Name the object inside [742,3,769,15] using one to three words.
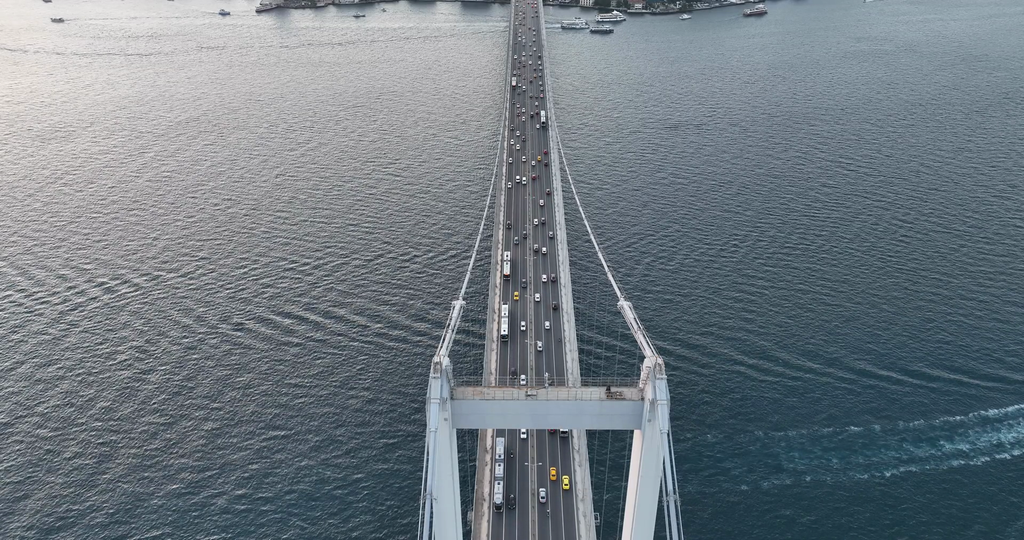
ship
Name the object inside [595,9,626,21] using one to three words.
ship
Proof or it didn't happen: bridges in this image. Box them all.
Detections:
[413,0,689,540]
